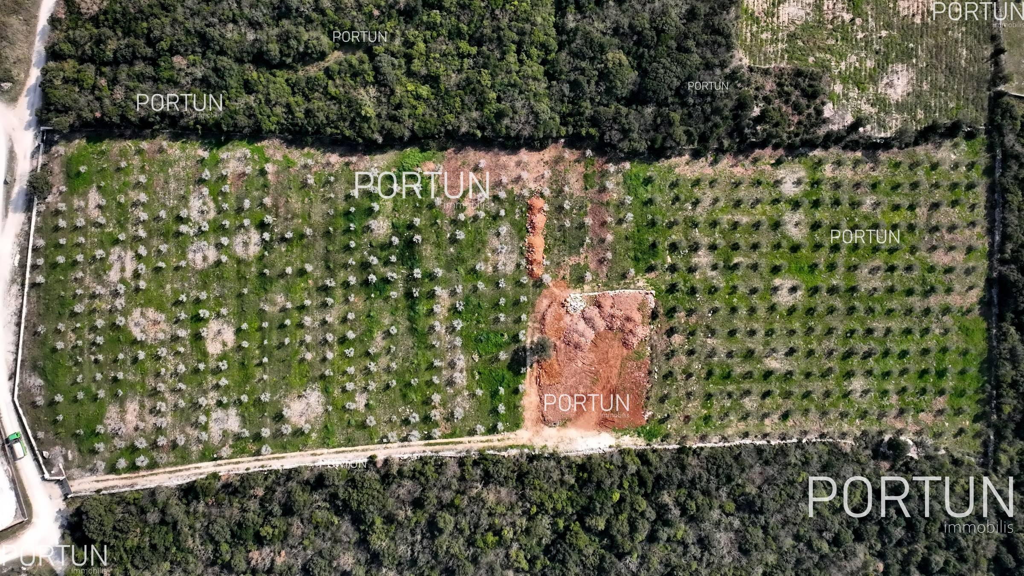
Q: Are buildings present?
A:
No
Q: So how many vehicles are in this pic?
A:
1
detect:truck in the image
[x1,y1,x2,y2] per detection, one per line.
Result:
[9,433,32,462]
